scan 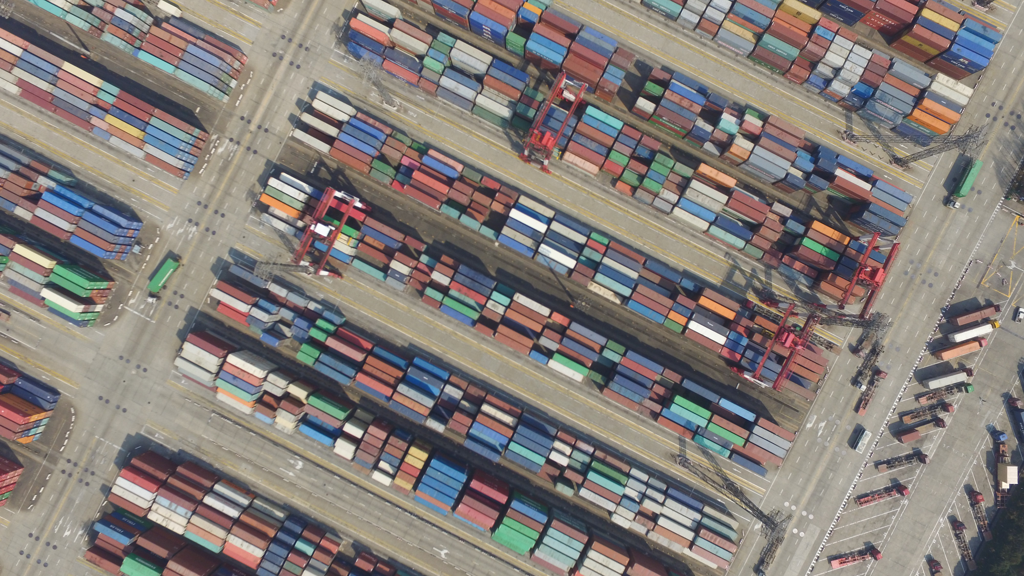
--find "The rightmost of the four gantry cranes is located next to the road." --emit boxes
[806,233,904,321]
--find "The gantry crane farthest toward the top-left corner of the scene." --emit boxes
[289,185,375,277]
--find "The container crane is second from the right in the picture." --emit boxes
[727,300,817,390]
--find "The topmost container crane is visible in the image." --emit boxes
[516,72,585,172]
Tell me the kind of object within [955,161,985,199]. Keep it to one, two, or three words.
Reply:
shipping container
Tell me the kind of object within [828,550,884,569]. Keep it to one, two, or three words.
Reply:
vehicle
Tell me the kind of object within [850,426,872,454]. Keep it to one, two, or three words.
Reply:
bus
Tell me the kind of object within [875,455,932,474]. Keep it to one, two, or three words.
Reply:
vehicle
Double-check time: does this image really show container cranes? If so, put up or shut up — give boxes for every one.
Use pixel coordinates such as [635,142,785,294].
[806,233,904,321]
[289,185,375,277]
[516,72,585,172]
[727,300,817,390]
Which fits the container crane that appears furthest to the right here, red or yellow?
red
